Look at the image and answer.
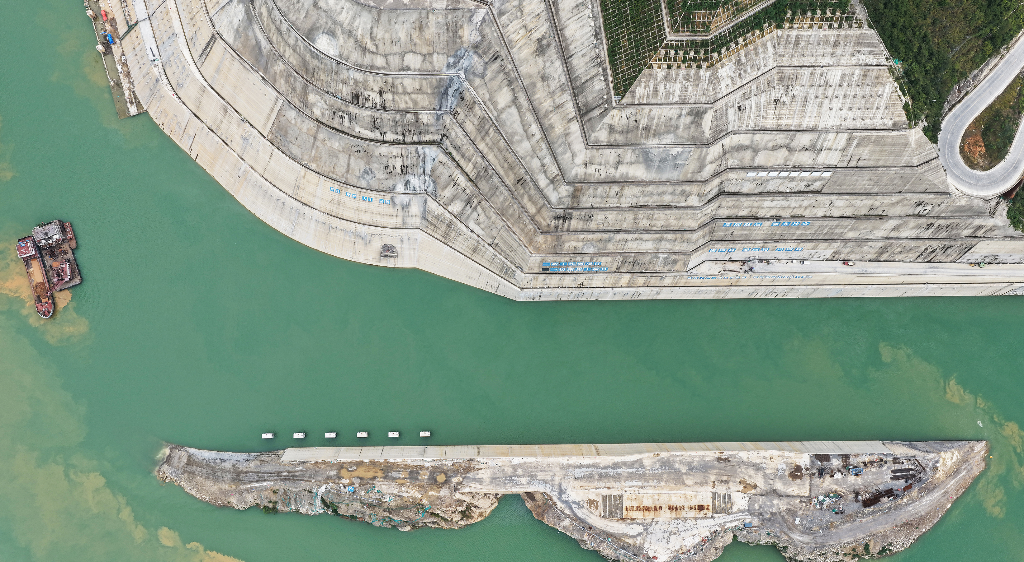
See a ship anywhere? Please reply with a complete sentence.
Yes, this view includes a ship.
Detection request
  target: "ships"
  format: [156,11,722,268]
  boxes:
[32,219,84,296]
[15,235,56,319]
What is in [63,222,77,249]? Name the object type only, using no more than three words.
boat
